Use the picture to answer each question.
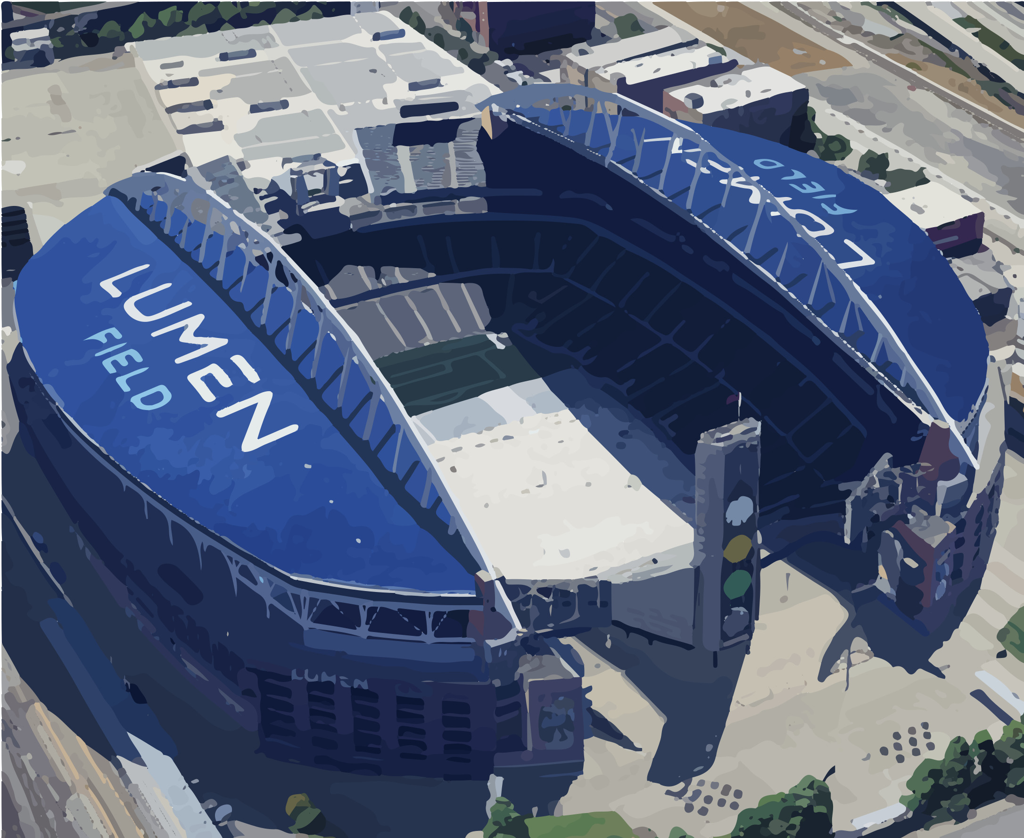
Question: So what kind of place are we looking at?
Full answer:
It's a sports ground.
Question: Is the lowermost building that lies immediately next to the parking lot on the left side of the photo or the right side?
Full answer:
It is on the left.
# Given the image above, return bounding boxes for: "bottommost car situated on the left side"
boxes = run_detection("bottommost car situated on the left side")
[200,797,220,813]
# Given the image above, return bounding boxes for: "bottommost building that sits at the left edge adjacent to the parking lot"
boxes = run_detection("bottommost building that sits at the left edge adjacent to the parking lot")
[0,201,47,272]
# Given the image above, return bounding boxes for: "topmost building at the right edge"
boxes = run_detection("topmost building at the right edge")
[875,178,975,249]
